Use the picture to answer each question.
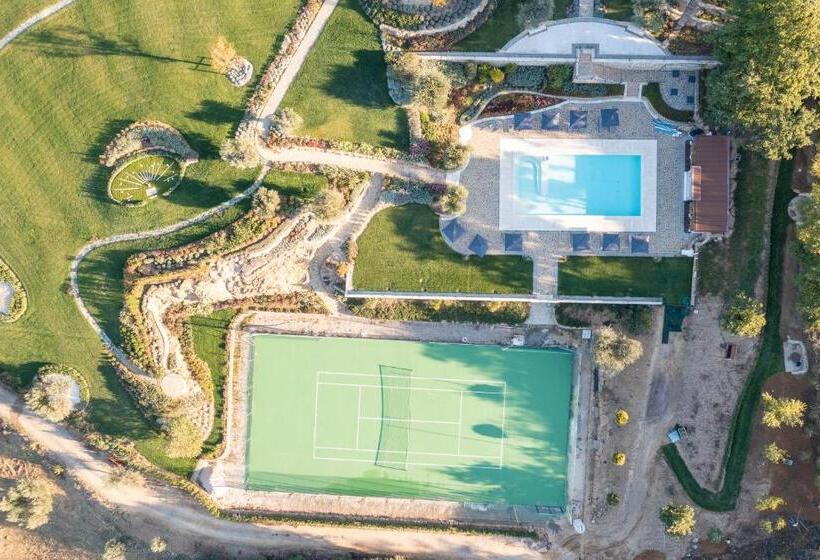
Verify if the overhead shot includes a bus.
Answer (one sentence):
No, there's no bus here.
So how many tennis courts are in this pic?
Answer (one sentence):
Only 1 tennis court is visible.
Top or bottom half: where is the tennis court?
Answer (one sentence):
The tennis court is in the bottom half of the image.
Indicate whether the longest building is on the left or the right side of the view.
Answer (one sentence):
The longest building appears in the right half of the scene.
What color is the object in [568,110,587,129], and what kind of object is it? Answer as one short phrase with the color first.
blue umbrella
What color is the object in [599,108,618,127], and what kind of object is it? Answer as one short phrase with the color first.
blue umbrella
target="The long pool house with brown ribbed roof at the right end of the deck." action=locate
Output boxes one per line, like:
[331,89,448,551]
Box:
[680,136,732,234]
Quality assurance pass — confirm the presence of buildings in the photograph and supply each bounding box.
[680,136,732,234]
[670,425,689,445]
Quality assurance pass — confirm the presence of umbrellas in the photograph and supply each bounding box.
[512,111,531,130]
[568,110,587,129]
[440,217,466,244]
[465,232,490,256]
[540,110,560,130]
[629,233,649,252]
[570,232,589,251]
[600,232,620,252]
[503,232,522,252]
[599,108,618,127]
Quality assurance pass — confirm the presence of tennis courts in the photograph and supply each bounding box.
[246,335,574,507]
